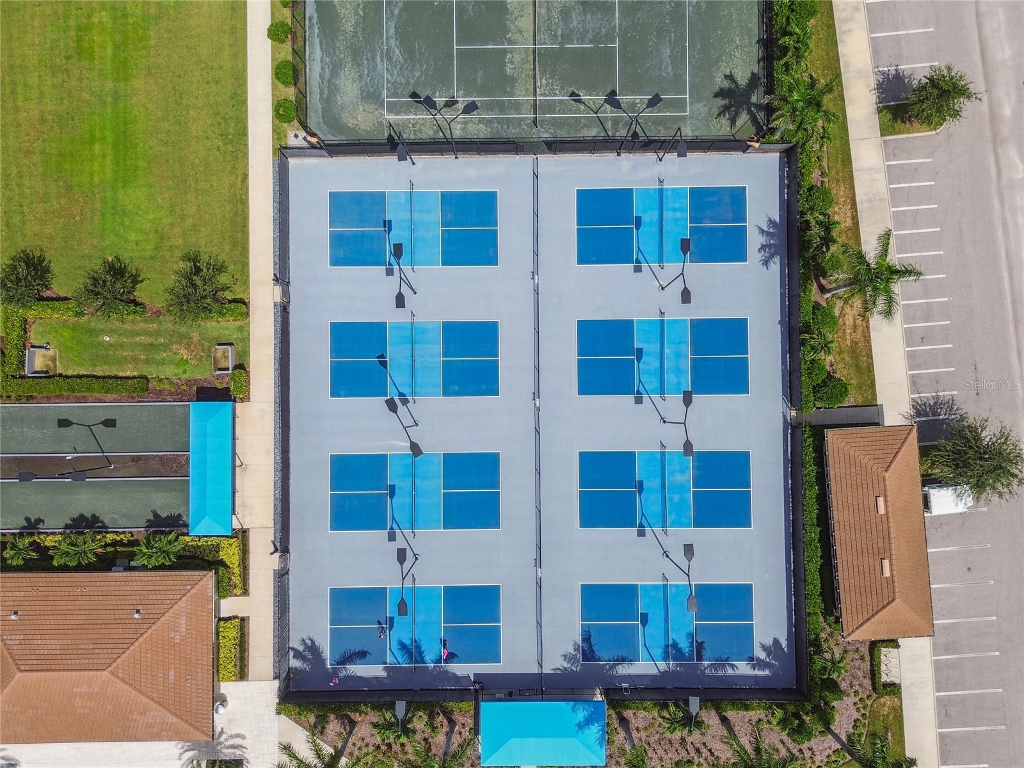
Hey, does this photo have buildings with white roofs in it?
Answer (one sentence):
No, I can't see a single building with a white roof in this photo.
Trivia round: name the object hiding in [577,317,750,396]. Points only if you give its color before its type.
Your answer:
blue sports court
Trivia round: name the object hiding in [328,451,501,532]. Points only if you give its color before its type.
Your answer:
blue sports court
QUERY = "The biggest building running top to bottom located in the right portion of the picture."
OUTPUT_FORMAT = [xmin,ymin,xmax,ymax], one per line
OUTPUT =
[825,423,934,642]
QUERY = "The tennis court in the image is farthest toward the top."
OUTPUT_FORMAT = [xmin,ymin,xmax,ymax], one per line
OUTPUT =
[306,0,759,157]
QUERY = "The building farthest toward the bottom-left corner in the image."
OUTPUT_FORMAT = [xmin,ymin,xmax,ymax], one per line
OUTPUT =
[0,569,220,744]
